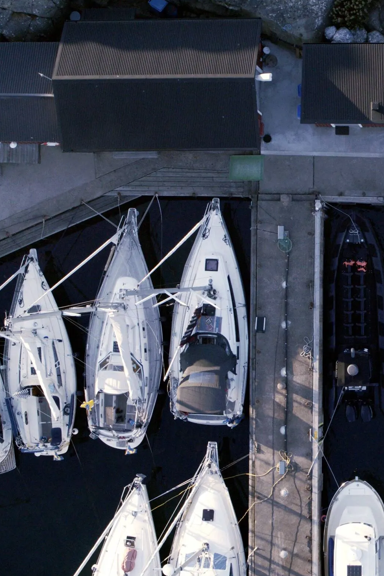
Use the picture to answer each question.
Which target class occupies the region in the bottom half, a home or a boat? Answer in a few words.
boat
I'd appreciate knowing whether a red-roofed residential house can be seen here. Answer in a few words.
No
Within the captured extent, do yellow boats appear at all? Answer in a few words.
No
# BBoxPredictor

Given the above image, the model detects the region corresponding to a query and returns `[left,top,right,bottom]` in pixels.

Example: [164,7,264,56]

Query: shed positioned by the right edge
[300,40,384,131]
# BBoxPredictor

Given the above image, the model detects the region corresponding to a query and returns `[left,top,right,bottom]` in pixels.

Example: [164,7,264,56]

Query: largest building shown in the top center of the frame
[52,16,278,154]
